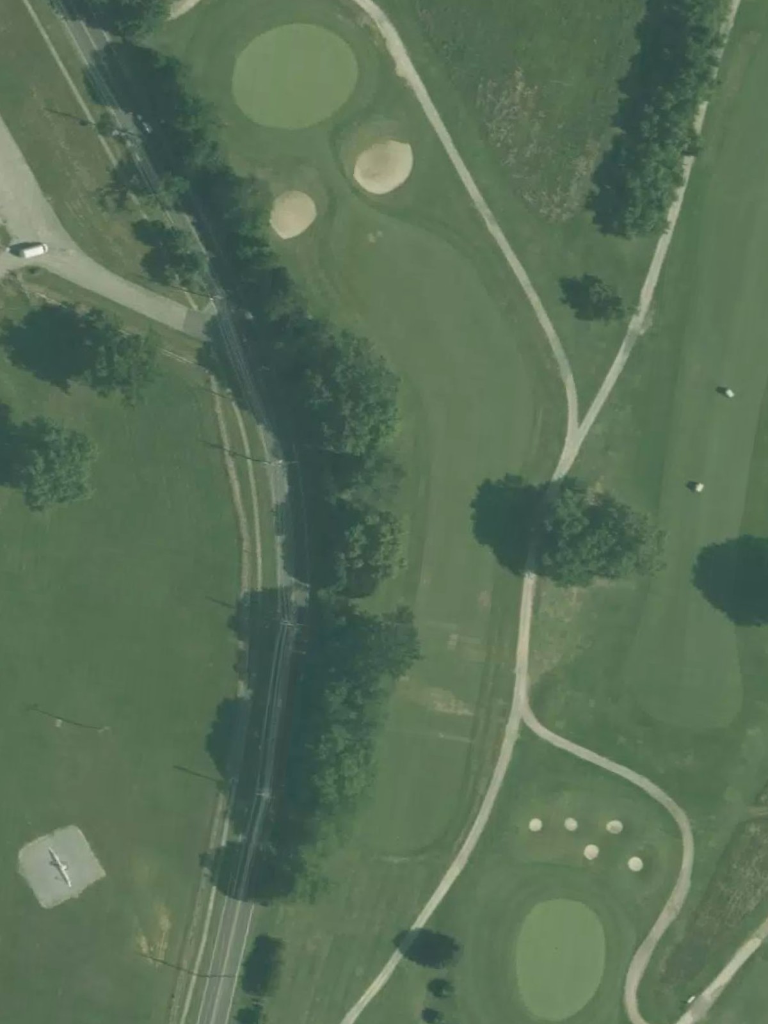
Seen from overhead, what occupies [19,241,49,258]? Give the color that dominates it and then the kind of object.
white vehicle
